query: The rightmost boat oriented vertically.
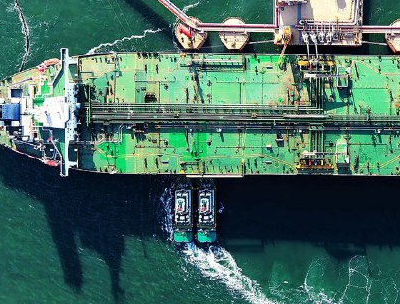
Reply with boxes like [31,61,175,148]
[196,175,219,244]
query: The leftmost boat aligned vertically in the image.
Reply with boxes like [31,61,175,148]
[173,175,195,245]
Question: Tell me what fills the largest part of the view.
water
